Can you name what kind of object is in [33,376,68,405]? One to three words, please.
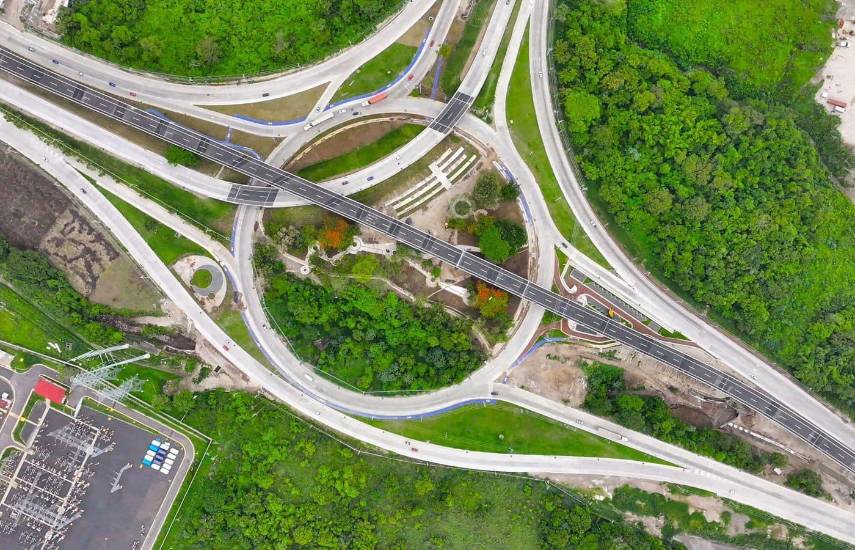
building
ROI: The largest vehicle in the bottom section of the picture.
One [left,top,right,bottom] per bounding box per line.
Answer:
[600,427,626,440]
